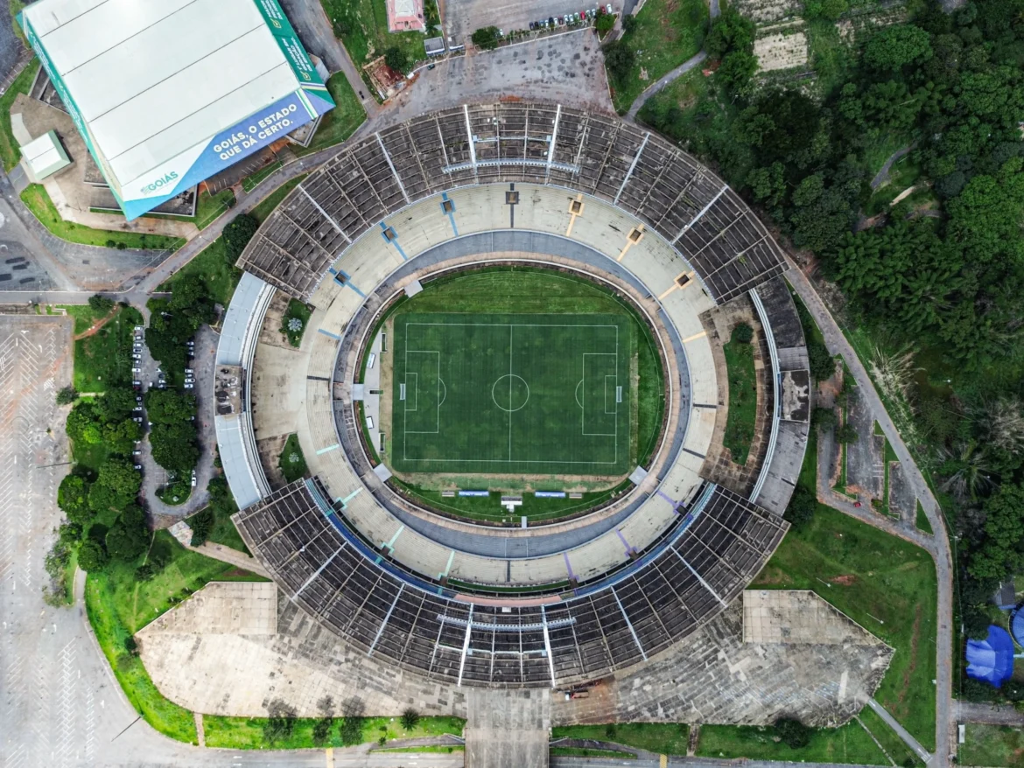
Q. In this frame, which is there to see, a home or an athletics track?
home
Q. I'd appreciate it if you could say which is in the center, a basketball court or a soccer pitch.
soccer pitch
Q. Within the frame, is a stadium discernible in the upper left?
Yes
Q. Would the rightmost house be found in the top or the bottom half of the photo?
bottom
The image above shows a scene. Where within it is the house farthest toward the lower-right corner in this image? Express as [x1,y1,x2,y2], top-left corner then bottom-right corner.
[991,580,1016,610]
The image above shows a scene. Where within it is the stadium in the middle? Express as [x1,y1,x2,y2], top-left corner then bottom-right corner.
[214,101,811,692]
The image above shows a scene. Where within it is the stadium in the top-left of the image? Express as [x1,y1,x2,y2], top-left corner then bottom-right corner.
[16,0,336,220]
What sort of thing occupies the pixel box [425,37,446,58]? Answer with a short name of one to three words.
building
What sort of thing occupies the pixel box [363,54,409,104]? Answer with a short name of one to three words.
building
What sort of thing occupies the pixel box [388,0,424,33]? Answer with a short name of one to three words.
house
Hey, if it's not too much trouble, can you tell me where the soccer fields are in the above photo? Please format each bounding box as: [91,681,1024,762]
[355,261,671,526]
